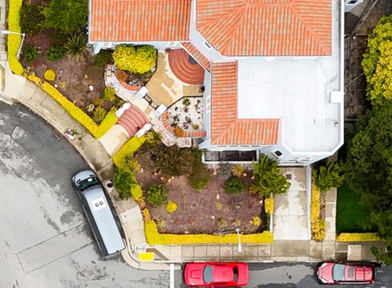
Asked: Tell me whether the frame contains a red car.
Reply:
Yes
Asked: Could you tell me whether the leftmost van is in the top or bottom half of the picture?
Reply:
bottom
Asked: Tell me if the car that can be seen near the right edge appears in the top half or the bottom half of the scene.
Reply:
bottom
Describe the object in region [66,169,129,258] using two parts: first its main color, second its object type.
white van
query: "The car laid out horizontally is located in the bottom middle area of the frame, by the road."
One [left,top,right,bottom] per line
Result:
[180,259,247,288]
